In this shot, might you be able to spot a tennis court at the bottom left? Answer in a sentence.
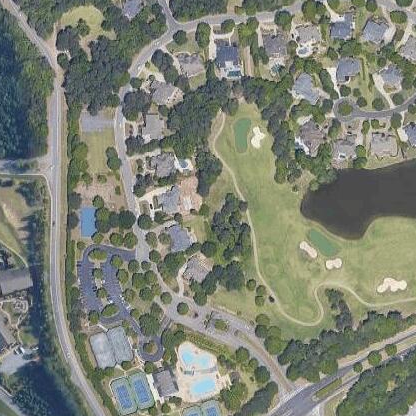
Yes, the scene does show a tennis court at the bottom left.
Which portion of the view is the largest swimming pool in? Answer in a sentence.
The largest swimming pool sits in the bottom section of the image.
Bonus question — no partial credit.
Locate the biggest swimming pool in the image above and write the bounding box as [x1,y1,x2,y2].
[176,341,231,401]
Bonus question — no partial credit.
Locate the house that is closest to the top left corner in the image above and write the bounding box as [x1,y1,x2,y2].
[121,0,142,20]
